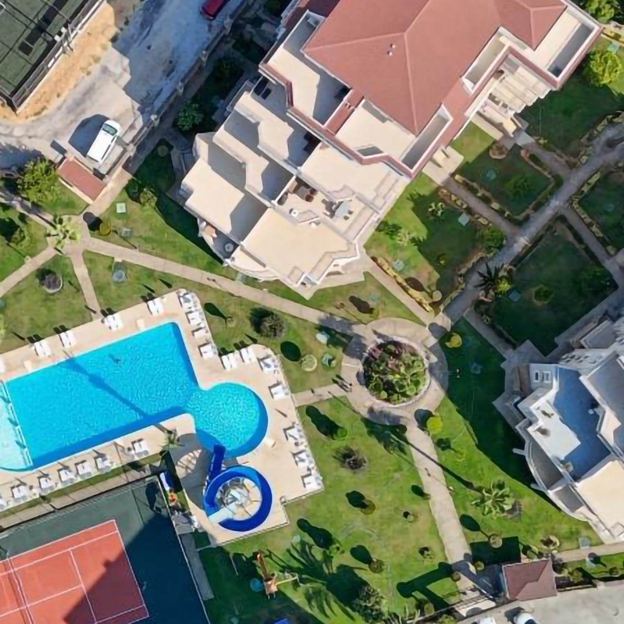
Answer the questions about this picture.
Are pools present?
Yes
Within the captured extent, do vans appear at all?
Yes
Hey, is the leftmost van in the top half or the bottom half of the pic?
top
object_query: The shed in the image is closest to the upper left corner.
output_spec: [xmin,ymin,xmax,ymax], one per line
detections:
[57,158,108,207]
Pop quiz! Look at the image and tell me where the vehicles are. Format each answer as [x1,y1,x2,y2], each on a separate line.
[201,0,231,22]
[85,118,120,164]
[478,614,498,624]
[512,608,538,624]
